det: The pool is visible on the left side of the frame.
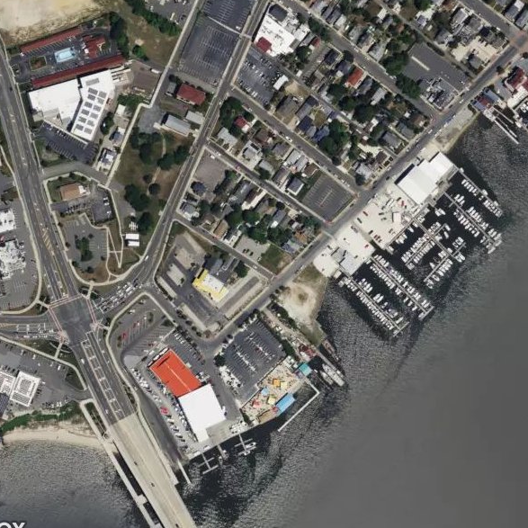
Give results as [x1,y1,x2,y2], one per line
[54,46,76,64]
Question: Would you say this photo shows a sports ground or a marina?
marina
